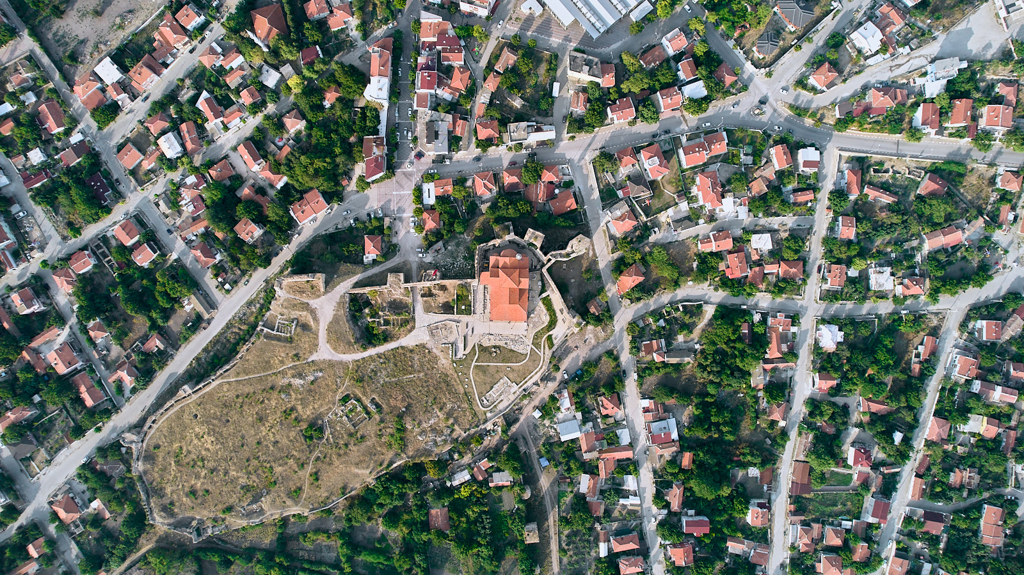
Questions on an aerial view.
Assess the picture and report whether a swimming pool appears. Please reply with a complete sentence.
No, there isn't any swimming pool down there.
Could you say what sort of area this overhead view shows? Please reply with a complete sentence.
This image shows a residential area.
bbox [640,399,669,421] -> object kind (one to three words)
shed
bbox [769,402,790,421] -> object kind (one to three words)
house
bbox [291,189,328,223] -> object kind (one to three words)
building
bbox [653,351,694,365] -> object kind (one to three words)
shed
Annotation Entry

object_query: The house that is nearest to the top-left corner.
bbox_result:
[9,59,30,87]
